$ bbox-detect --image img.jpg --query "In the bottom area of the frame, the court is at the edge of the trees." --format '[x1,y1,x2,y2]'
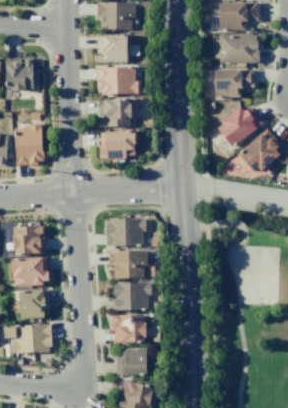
[230,244,282,304]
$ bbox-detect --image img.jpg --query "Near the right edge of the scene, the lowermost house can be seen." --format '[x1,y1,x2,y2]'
[240,132,282,170]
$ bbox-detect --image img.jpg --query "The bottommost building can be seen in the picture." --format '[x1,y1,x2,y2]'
[122,382,154,408]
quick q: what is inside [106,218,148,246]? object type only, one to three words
house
